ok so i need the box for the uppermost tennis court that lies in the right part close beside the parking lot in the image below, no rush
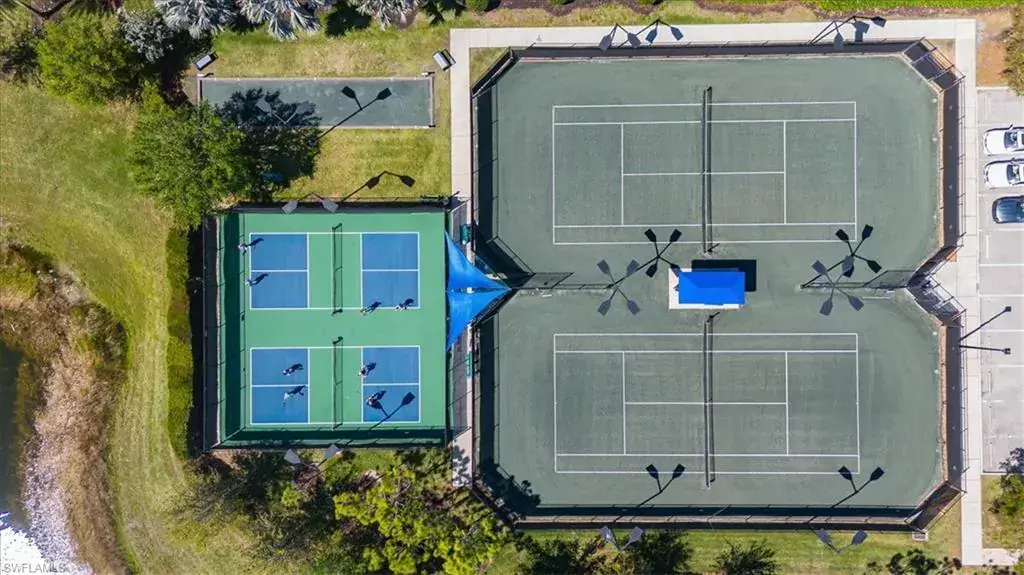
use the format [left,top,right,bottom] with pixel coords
[474,53,944,288]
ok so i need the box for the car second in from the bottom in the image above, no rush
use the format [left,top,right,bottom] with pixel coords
[983,157,1024,188]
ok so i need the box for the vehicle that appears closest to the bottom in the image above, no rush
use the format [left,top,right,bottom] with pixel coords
[991,196,1024,222]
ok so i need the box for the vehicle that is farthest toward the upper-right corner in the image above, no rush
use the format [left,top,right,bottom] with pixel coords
[983,124,1024,155]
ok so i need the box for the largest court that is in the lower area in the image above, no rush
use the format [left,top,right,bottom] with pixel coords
[474,287,946,522]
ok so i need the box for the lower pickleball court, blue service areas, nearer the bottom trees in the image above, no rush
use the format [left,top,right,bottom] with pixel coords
[220,328,449,443]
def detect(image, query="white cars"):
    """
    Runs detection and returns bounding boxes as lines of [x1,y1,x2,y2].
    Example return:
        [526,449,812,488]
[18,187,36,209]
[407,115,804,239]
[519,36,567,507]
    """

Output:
[983,157,1024,188]
[983,124,1024,155]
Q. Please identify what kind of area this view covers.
sports ground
